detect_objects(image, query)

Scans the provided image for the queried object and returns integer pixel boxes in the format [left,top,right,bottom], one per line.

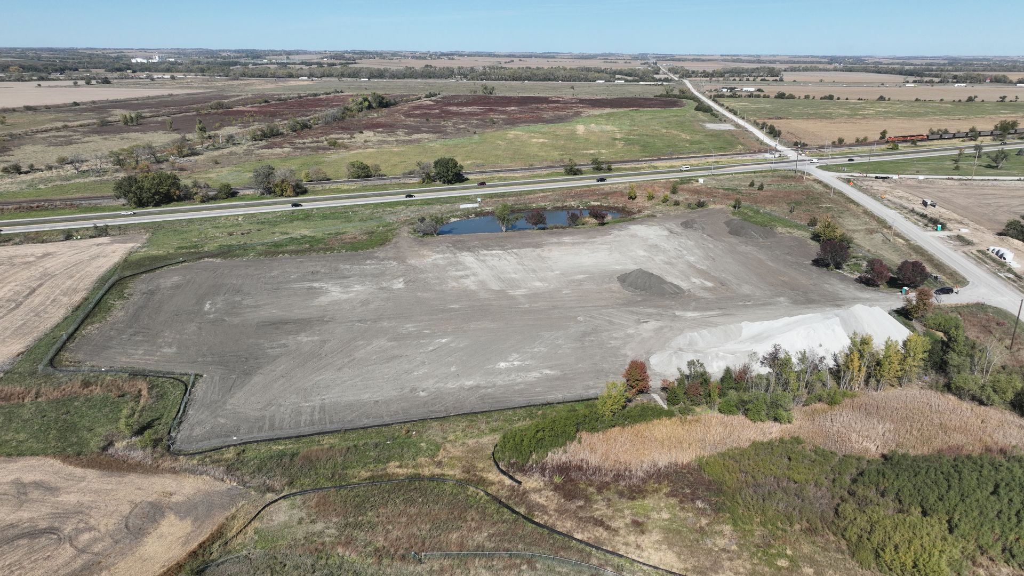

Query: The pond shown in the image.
[439,210,620,236]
